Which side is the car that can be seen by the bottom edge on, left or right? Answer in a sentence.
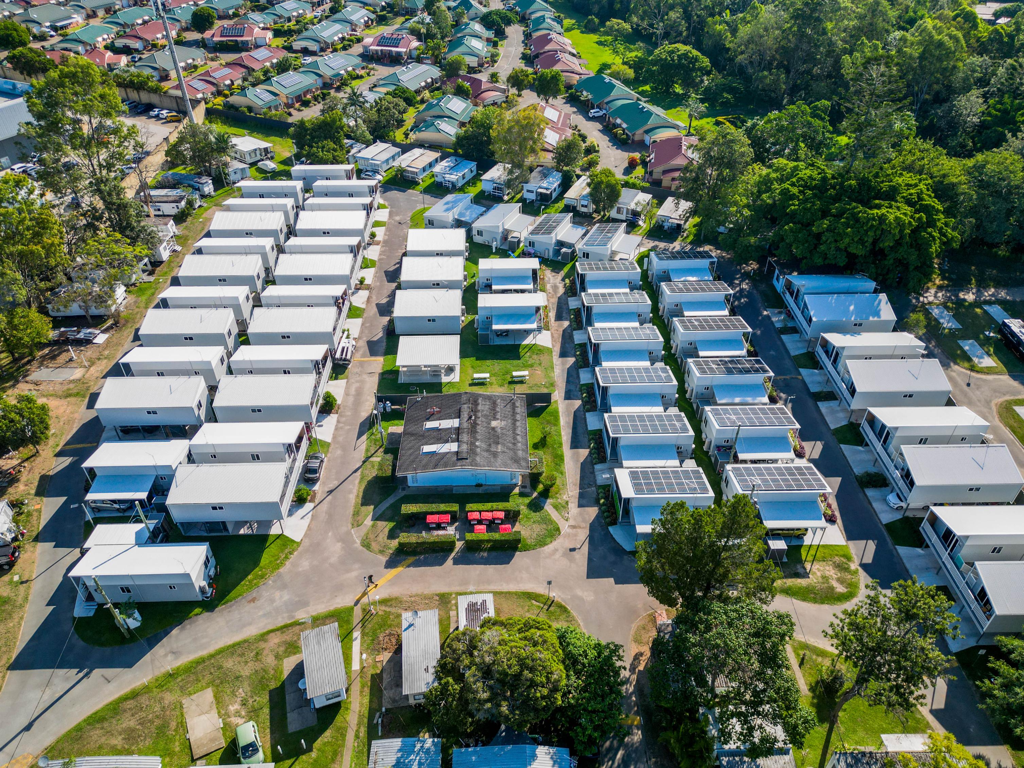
You can find the car that can be seen by the bottom edge on the left side of the picture.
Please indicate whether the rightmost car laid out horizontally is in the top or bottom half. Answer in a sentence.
It is in the bottom half that the rightmost car laid out horizontally appears.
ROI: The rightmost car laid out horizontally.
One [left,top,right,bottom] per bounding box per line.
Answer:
[877,493,926,515]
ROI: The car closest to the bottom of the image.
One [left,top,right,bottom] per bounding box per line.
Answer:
[234,714,263,766]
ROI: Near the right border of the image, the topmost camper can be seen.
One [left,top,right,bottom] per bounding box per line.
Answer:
[1003,318,1024,357]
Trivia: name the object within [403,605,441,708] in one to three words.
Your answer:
building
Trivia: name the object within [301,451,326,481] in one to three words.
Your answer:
car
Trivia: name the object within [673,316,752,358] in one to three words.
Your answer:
building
